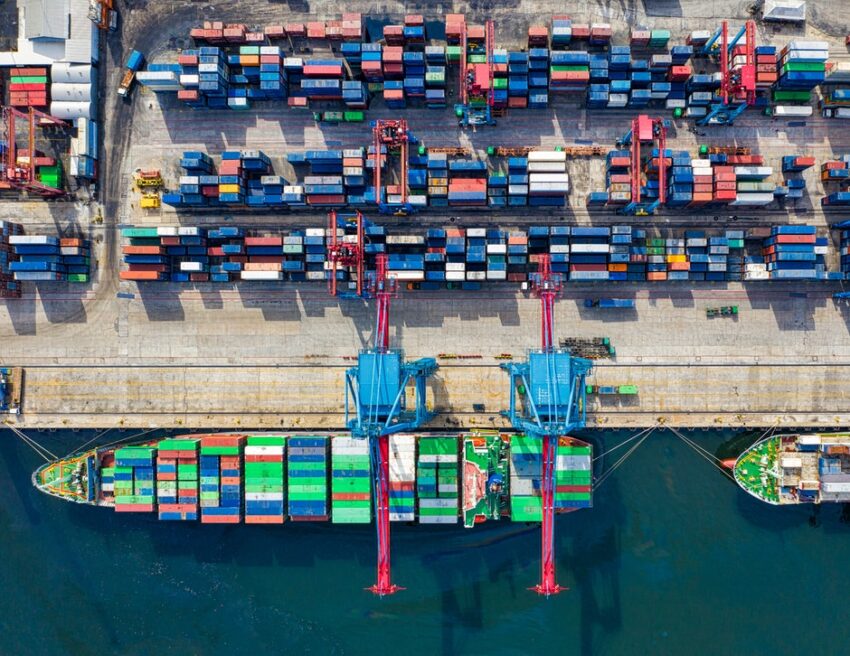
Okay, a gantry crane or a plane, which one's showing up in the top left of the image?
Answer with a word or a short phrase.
gantry crane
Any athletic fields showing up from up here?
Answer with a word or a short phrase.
No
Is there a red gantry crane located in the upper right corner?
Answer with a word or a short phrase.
Yes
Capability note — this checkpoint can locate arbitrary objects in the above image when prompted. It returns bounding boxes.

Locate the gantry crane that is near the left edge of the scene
[11,104,86,200]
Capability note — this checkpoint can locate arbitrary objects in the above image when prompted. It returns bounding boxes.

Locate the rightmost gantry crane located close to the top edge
[695,18,758,129]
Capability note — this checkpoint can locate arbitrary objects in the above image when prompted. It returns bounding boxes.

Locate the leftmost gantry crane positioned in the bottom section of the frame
[344,255,438,599]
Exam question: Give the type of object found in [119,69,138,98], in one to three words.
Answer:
vehicle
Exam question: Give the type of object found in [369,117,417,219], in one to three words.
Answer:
container crane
